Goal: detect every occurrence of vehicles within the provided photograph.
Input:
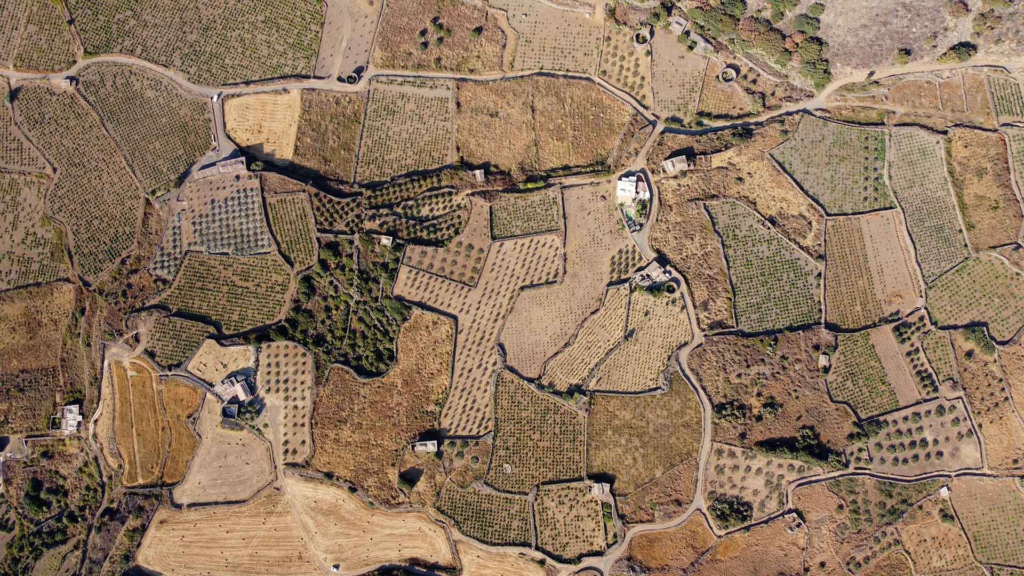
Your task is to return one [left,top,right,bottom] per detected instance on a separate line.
[211,93,218,102]
[329,565,338,572]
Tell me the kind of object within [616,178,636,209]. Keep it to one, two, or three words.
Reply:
house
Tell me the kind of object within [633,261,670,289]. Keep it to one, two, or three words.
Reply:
house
